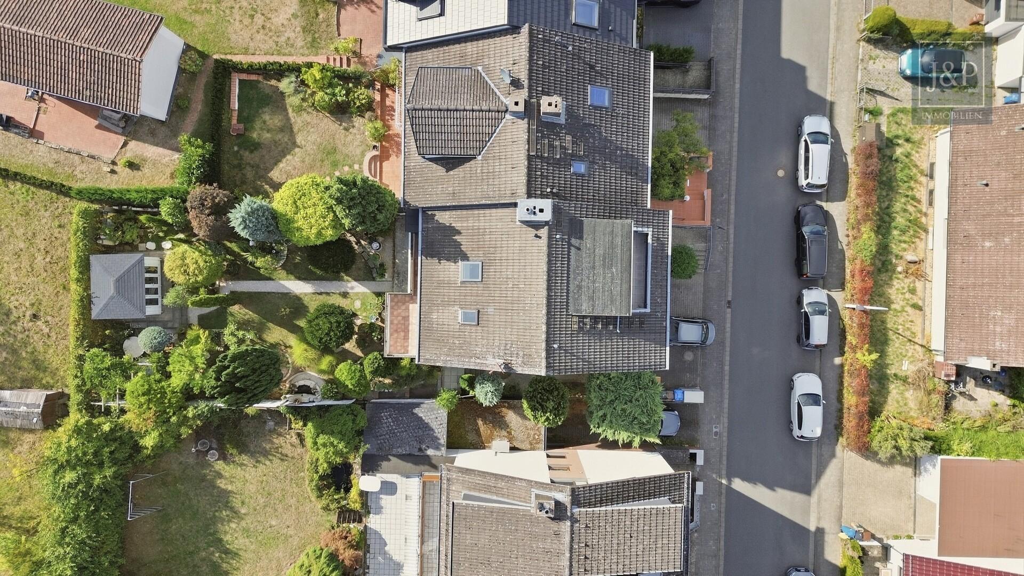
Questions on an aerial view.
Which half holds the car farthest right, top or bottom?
top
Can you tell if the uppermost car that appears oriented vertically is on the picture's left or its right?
right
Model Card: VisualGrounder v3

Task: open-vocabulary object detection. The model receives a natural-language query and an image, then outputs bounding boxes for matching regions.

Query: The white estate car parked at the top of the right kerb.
[796,116,834,192]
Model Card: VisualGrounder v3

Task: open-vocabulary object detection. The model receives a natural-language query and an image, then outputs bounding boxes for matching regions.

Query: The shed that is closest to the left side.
[0,390,71,430]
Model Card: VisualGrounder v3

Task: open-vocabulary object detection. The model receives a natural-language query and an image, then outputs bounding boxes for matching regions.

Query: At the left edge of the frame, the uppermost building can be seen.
[0,0,185,122]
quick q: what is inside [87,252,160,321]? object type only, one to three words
building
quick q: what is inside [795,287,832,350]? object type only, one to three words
car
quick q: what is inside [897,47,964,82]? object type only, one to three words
car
